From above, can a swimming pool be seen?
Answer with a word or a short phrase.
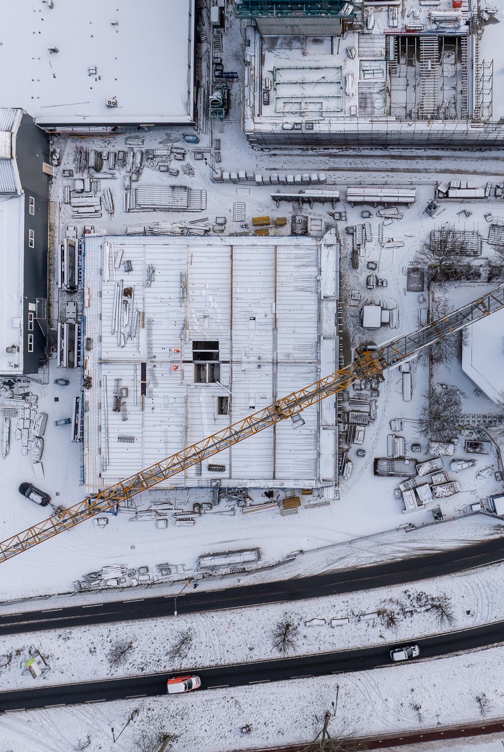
No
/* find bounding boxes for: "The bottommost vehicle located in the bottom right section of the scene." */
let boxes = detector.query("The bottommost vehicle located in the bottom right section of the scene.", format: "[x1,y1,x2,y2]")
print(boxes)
[390,641,420,661]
